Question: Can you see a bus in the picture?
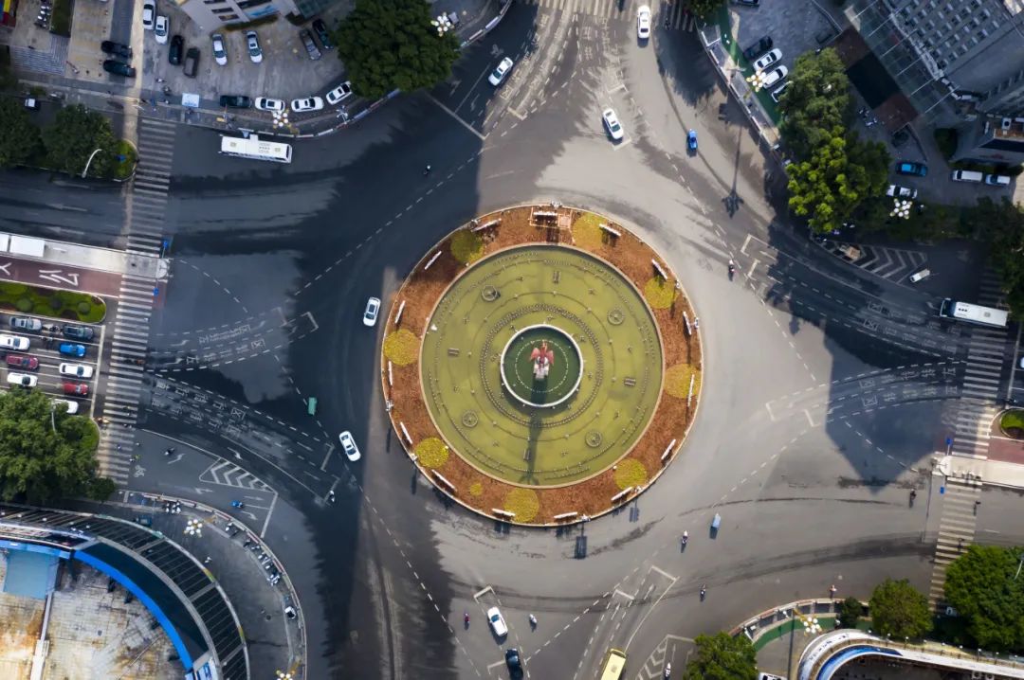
Yes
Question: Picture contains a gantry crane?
No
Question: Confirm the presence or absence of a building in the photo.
Yes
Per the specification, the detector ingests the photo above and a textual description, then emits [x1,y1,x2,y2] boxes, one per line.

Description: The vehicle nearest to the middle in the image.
[364,296,380,327]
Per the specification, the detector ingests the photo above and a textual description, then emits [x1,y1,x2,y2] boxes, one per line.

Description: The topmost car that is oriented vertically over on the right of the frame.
[636,5,652,39]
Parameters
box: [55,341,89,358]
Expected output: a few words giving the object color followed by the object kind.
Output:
blue car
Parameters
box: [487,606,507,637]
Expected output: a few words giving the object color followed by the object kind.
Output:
white car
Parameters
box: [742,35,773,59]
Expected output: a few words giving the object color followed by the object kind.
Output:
black car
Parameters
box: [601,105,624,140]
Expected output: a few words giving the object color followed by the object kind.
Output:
white car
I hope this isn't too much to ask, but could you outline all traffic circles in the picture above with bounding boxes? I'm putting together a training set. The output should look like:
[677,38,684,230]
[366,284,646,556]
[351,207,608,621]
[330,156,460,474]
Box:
[381,205,703,527]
